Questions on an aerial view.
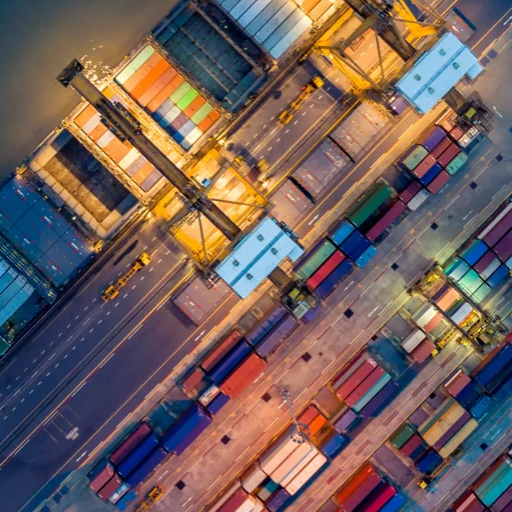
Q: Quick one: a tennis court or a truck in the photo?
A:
truck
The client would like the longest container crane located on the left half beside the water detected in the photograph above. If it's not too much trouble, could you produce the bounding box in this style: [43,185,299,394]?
[57,61,306,301]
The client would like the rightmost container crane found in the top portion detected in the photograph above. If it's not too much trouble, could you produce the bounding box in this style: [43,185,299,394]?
[427,86,509,148]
